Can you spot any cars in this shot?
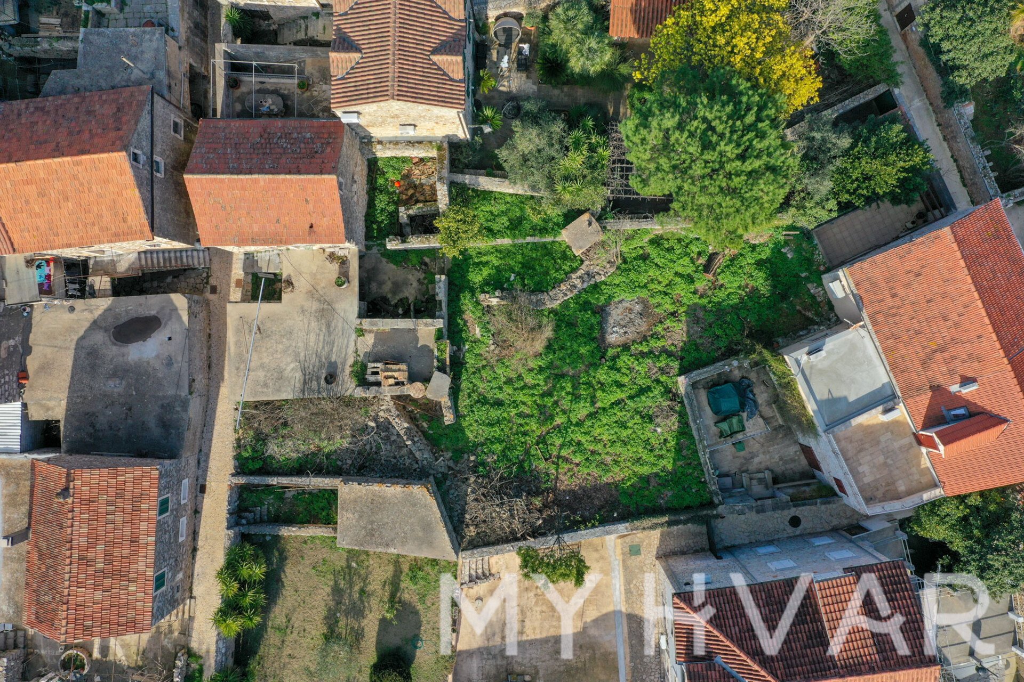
No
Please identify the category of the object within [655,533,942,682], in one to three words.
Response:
house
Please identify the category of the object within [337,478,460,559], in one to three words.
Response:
building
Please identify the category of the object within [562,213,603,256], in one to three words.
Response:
shed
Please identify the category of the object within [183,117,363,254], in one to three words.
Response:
house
